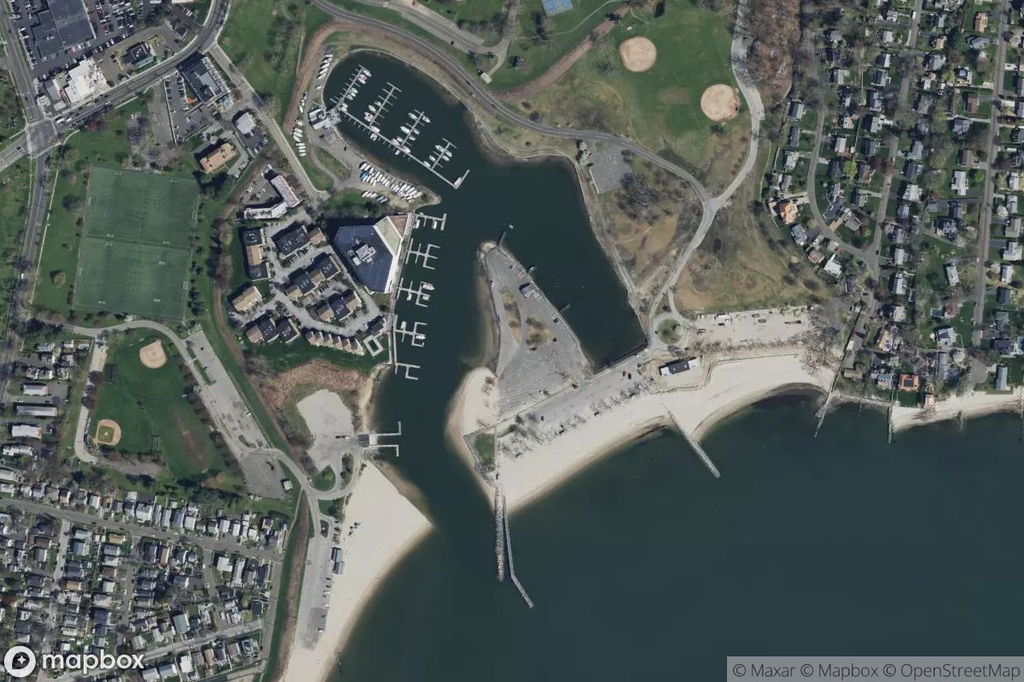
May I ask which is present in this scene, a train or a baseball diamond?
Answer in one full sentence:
Of the two, only a baseball diamond appears.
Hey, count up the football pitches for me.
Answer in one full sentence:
In total, 2 football pitches can be seen.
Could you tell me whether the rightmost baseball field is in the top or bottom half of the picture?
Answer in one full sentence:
The top half of the photo is where the rightmost baseball field is.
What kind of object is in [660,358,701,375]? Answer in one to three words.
building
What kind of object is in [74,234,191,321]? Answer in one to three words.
soccer field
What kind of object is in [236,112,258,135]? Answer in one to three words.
building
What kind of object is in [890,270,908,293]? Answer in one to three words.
house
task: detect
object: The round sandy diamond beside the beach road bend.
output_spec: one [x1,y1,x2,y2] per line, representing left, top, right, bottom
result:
[701,83,740,121]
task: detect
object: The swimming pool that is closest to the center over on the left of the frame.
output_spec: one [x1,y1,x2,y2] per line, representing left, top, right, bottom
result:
[363,335,384,356]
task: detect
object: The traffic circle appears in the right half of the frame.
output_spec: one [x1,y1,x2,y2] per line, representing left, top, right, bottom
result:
[653,315,685,347]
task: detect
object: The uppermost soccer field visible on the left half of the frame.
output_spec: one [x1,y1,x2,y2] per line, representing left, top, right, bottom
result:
[85,167,199,248]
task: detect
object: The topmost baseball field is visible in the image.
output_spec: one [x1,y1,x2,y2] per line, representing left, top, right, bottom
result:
[619,36,656,72]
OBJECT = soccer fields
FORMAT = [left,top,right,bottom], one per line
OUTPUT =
[74,234,191,321]
[85,167,199,248]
